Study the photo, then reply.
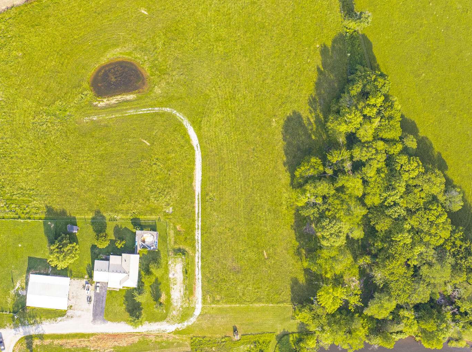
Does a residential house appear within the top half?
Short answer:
No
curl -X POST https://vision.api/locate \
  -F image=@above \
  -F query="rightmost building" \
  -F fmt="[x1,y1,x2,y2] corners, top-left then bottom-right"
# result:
[93,254,141,292]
